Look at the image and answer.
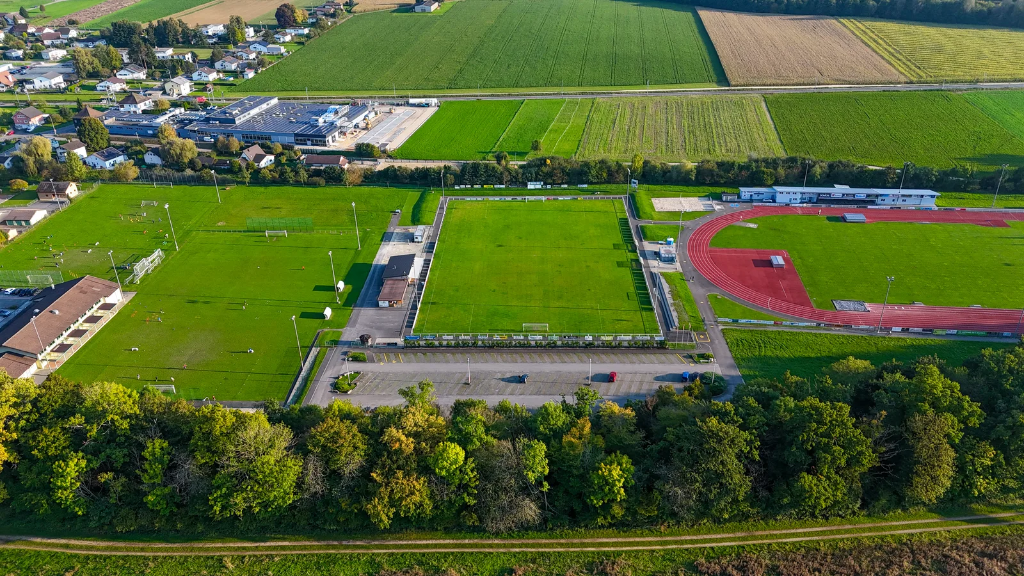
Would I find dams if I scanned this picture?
No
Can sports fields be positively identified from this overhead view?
Yes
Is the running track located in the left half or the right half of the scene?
right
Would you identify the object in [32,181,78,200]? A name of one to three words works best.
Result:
house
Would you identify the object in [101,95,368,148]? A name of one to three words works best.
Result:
building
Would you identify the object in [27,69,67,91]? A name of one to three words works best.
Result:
house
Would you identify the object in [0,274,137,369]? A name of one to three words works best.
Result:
building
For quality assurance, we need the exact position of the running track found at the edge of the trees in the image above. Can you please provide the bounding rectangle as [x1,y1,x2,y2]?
[686,205,1024,329]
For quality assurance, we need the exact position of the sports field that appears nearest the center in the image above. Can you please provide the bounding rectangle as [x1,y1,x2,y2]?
[405,197,663,337]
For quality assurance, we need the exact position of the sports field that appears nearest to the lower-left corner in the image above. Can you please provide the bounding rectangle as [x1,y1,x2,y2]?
[0,185,422,404]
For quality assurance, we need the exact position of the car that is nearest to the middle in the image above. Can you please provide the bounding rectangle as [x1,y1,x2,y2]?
[518,372,530,384]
